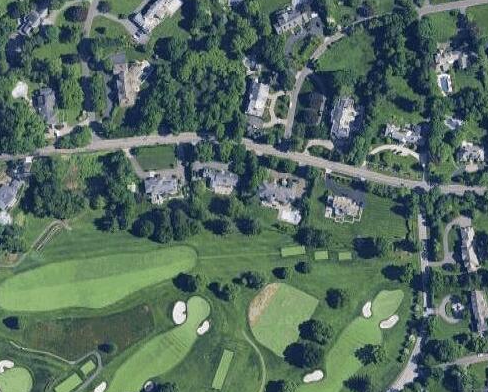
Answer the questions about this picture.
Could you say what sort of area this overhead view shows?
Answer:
golf course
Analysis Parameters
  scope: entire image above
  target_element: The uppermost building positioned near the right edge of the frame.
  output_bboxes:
[432,48,468,66]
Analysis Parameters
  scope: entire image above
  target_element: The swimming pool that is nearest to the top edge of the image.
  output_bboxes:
[438,74,453,94]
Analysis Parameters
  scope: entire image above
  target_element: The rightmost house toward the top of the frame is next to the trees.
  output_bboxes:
[458,142,484,164]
